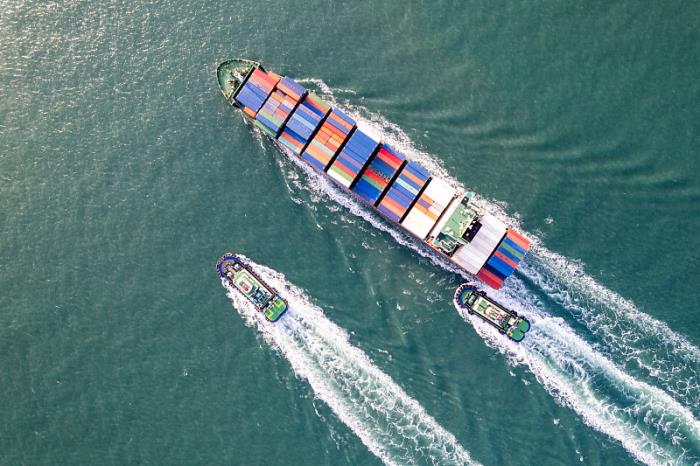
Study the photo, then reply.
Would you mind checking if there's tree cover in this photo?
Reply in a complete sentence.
No, there's no tree cover in this view.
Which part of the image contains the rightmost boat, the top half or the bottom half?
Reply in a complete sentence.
Seen from above, the rightmost boat lies in the bottom half of the view.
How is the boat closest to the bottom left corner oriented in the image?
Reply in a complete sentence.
The boat closest to the bottom left corner has been laid out at an angle relative to the frame.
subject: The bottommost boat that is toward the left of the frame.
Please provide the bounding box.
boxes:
[215,255,286,318]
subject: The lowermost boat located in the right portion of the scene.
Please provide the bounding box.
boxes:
[455,285,530,342]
